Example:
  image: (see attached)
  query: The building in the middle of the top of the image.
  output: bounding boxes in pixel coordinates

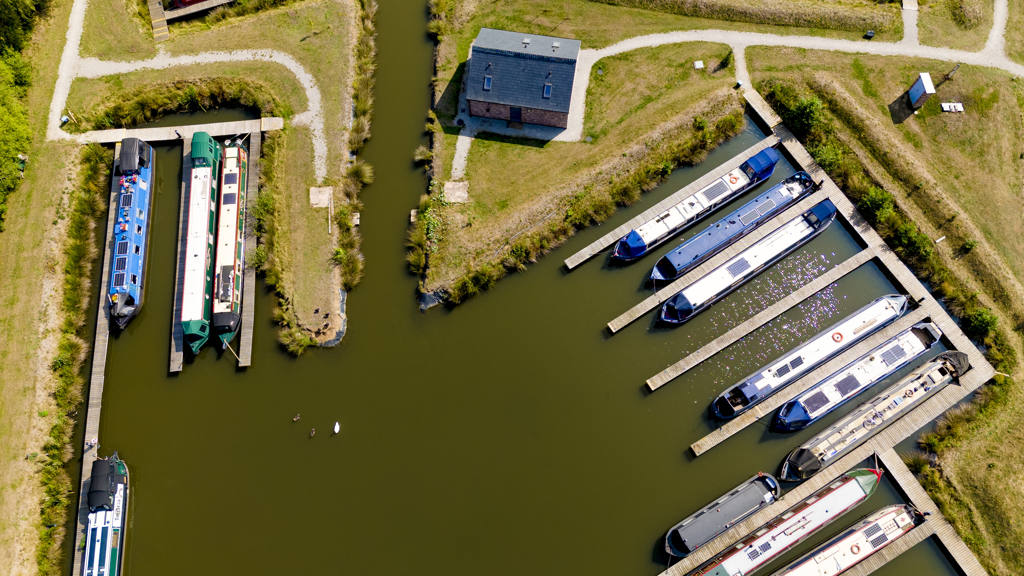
[466,27,580,129]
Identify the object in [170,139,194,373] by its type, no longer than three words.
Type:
pier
